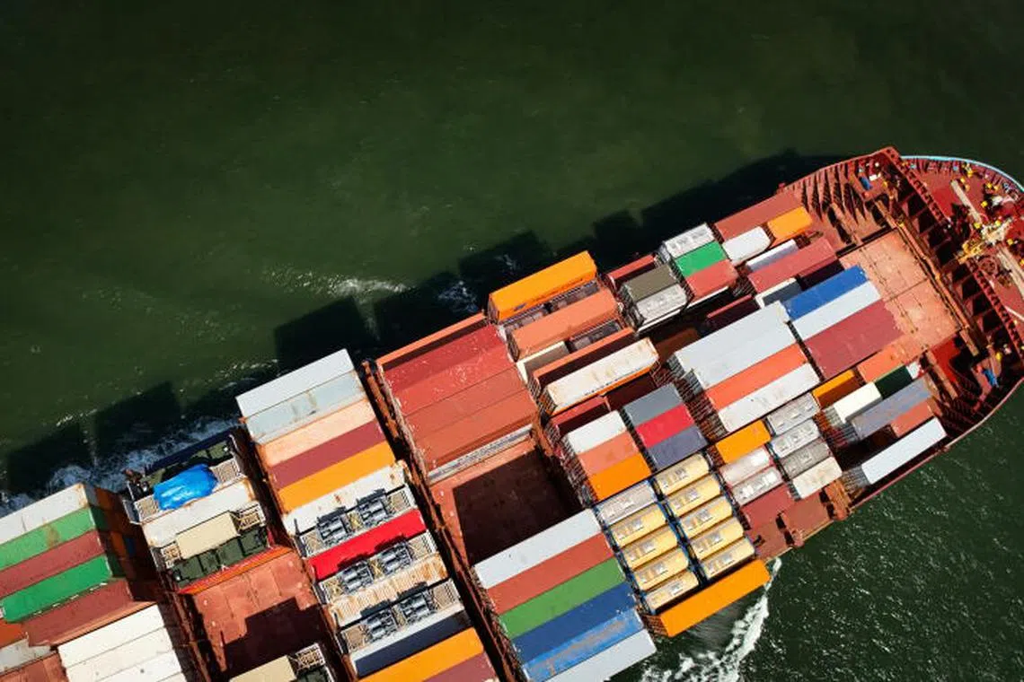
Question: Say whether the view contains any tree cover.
No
